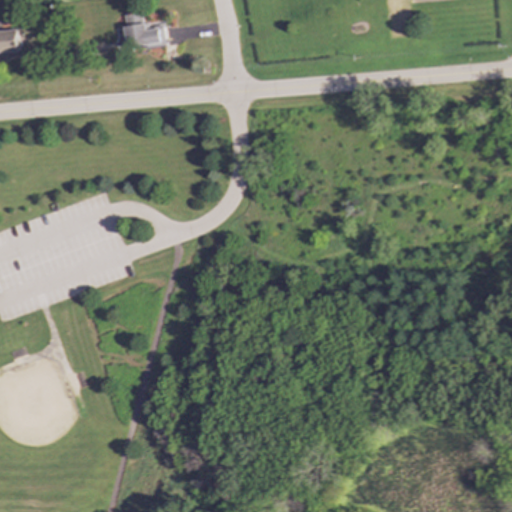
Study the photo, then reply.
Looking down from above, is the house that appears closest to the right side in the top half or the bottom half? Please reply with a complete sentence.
The top half of the photo is where the house that appears closest to the right side is.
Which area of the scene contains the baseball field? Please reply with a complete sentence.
The baseball field is in the bottom left part of the image.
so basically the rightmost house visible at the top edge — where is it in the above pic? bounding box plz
[124,13,164,46]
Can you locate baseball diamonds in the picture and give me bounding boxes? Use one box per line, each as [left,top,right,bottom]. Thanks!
[0,358,126,512]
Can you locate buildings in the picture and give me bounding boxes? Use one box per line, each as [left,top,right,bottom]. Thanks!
[124,13,164,46]
[0,29,23,52]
